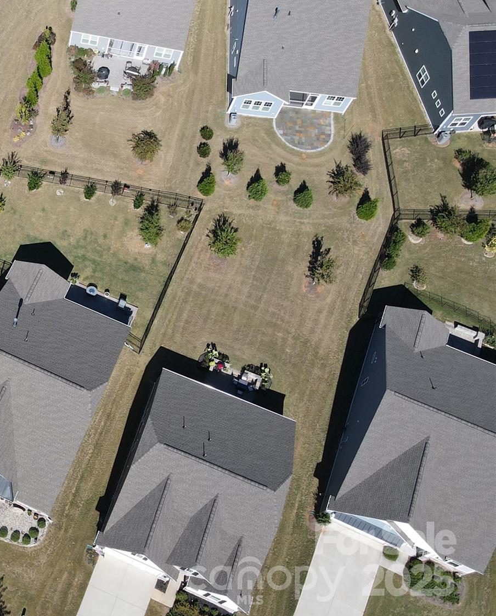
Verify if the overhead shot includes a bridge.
No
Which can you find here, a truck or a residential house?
residential house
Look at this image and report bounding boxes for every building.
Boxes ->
[0,260,132,520]
[223,0,370,121]
[69,0,194,68]
[318,305,496,585]
[391,0,496,129]
[90,367,296,615]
